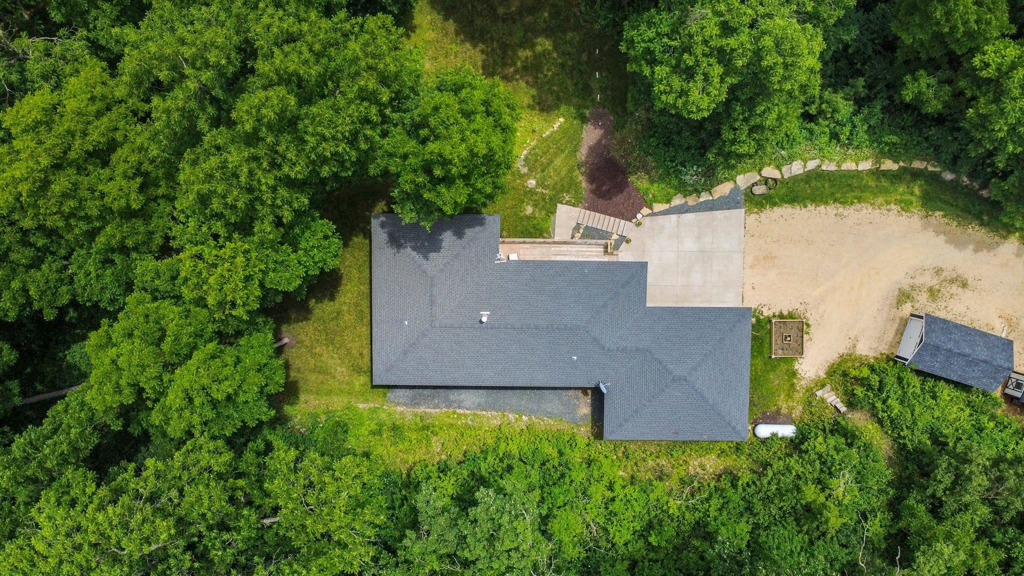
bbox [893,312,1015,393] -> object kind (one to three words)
shed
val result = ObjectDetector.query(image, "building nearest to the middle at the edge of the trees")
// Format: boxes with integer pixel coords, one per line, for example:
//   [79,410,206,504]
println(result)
[371,213,753,442]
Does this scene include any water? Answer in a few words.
No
